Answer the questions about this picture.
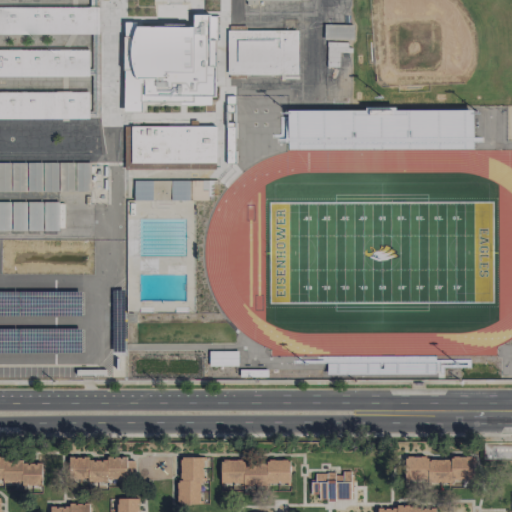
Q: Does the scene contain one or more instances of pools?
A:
Yes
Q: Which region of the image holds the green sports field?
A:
right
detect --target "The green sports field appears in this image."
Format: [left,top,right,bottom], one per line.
[266,173,499,333]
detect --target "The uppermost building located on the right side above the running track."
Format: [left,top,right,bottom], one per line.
[326,24,355,40]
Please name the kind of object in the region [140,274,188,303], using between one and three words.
swimming pool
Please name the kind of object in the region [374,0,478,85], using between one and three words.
baseball field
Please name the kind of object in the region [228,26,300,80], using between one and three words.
building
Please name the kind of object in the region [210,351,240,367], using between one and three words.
building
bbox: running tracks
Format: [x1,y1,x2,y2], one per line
[203,150,512,358]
